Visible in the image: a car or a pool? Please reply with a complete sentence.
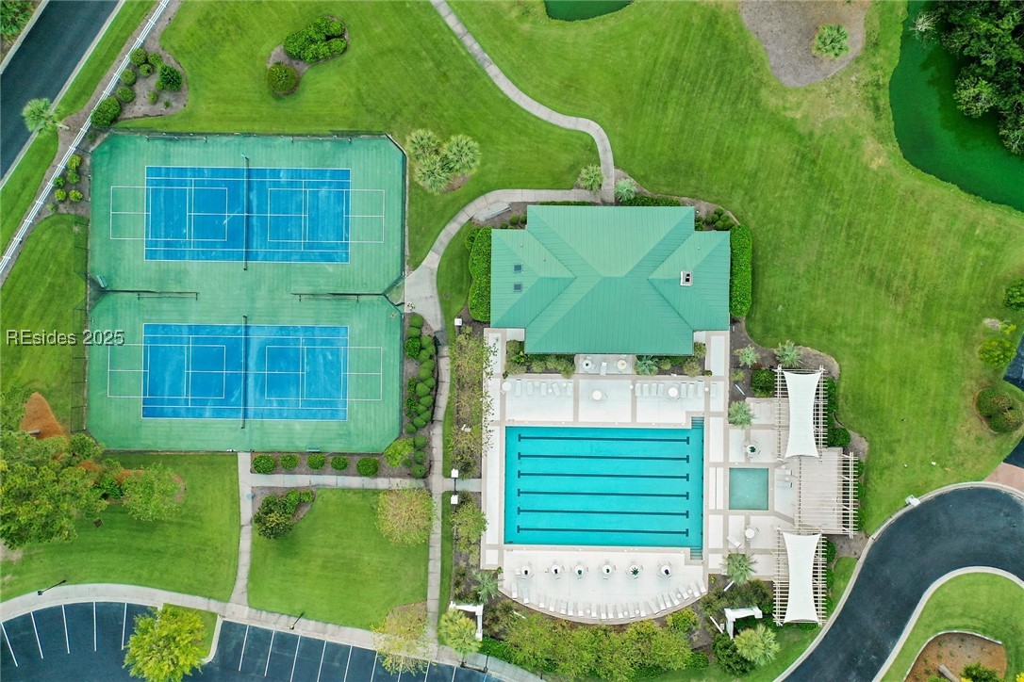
There is a pool in the scene.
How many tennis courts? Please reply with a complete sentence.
My tally gives 2 tennis courts in this view.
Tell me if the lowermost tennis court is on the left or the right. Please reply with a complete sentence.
The lowermost tennis court sits on the left side.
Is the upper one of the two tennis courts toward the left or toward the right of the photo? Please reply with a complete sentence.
It is on the left.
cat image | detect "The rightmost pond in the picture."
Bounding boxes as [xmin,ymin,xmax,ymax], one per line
[889,0,1024,212]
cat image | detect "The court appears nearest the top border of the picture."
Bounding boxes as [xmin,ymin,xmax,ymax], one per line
[88,135,404,293]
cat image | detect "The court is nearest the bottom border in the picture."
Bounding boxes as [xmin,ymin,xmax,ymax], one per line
[87,291,399,453]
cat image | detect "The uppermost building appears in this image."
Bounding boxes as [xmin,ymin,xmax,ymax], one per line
[490,204,731,356]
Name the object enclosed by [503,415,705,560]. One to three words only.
swimming pool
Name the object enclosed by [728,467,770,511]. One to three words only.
swimming pool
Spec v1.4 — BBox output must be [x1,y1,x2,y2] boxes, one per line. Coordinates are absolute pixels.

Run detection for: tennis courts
[88,135,404,293]
[87,291,399,453]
